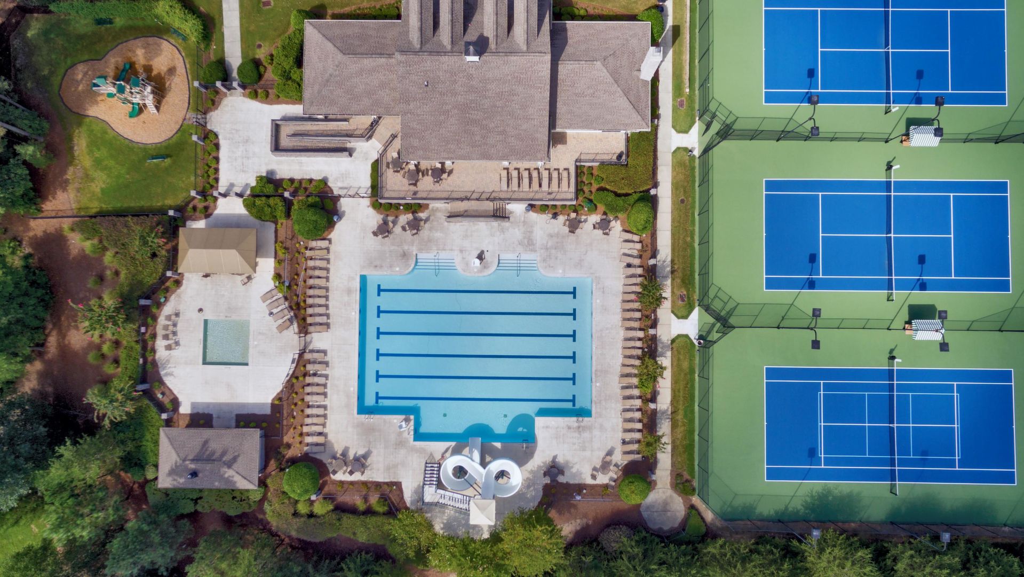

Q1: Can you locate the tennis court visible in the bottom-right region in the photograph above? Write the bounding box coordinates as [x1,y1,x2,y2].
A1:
[699,327,1024,525]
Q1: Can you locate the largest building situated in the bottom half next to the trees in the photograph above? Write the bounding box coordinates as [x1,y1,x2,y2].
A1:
[157,424,272,489]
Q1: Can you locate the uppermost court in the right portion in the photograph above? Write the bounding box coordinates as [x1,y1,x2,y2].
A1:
[699,0,1024,157]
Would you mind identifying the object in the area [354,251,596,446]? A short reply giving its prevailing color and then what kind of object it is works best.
blue swimming pool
